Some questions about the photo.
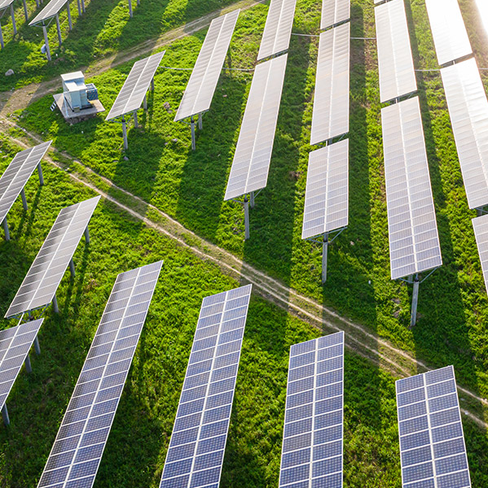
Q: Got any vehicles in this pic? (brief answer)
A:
No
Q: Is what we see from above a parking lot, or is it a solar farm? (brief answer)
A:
solar farm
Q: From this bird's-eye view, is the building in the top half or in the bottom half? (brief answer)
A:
top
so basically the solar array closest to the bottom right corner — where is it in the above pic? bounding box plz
[396,367,471,488]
